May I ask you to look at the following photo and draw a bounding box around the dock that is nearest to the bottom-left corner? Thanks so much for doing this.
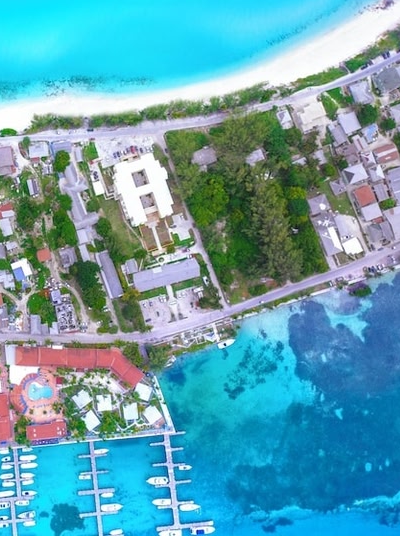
[0,446,35,536]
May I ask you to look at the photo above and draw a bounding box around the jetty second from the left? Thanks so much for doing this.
[78,440,118,536]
